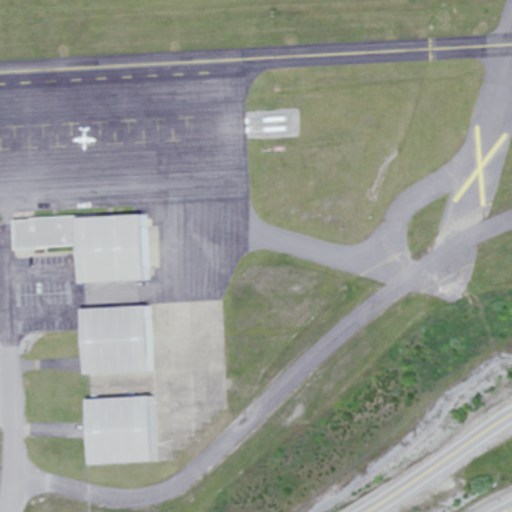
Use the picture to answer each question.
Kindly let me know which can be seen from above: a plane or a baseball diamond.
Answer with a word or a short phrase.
plane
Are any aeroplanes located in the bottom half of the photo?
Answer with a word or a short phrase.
No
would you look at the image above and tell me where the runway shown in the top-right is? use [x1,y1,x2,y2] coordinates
[386,0,512,249]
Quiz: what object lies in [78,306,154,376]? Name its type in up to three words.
hangar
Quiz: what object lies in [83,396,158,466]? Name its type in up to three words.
hangar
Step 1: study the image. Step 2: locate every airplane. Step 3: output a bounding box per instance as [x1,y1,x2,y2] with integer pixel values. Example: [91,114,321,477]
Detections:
[72,126,96,151]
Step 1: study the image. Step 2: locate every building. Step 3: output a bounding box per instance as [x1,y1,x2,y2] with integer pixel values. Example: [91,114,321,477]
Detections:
[74,214,150,284]
[83,396,158,466]
[78,306,154,376]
